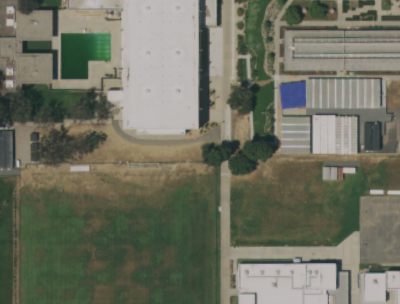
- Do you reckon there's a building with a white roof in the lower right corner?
Yes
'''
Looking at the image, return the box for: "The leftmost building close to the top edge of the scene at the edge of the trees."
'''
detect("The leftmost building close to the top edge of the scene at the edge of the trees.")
[0,0,59,88]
